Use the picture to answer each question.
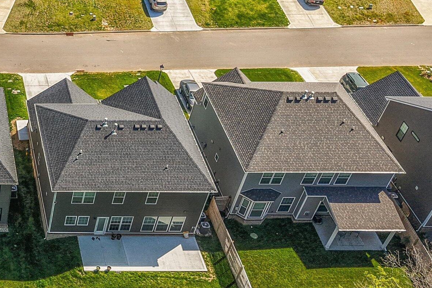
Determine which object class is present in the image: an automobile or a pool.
automobile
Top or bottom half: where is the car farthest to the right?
top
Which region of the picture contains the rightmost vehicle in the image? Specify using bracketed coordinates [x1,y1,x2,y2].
[338,66,372,92]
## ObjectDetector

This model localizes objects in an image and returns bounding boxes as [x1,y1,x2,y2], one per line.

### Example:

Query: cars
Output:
[338,66,372,92]
[148,0,170,11]
[178,78,198,102]
[305,0,326,5]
